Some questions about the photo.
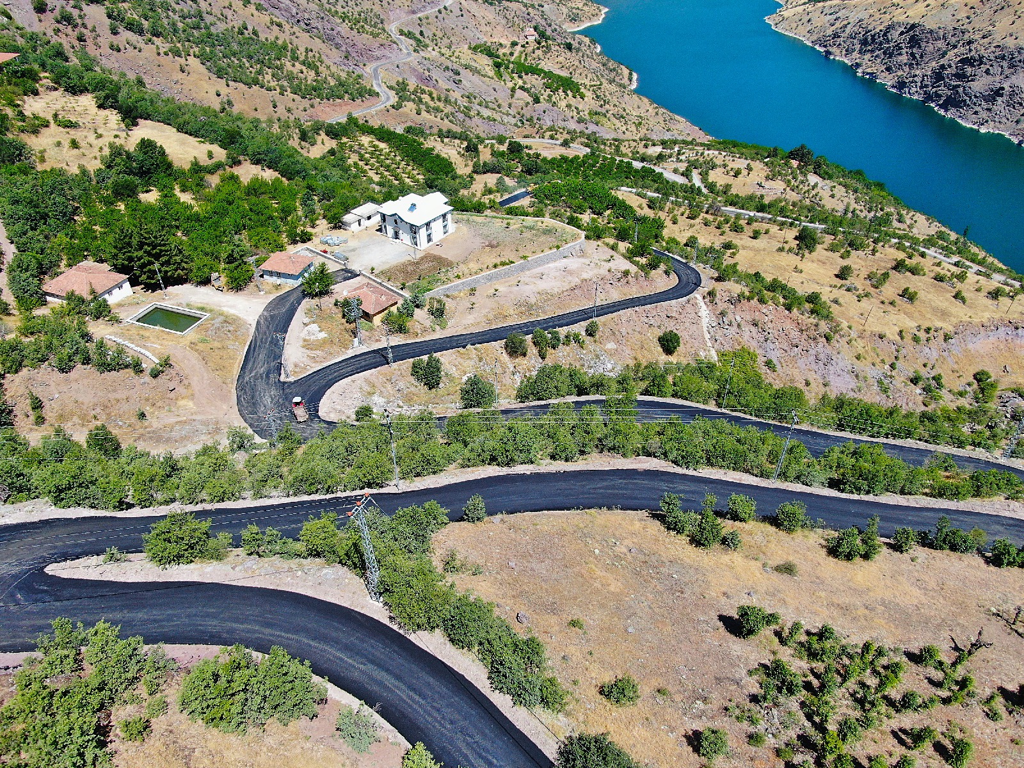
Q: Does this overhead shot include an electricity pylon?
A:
Yes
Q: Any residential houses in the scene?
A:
Yes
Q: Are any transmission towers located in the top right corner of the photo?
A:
No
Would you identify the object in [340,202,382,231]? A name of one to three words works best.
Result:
building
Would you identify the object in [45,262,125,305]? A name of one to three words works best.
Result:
house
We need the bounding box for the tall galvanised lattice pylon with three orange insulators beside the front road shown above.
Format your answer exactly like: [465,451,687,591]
[340,489,385,605]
